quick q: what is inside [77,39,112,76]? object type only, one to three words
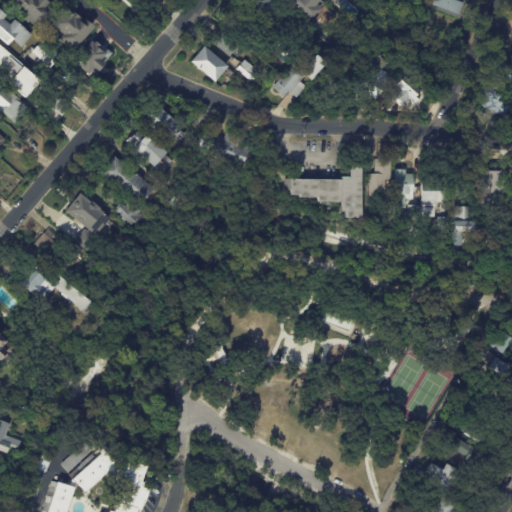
house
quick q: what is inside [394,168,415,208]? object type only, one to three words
house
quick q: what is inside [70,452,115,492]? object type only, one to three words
building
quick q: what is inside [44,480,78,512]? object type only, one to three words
building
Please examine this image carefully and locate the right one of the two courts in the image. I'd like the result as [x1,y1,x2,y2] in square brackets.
[406,368,458,426]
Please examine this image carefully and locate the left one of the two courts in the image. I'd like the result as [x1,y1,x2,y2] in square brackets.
[376,349,428,412]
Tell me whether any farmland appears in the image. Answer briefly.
No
